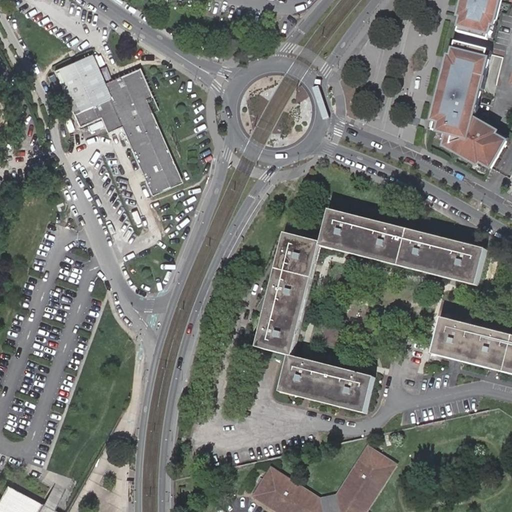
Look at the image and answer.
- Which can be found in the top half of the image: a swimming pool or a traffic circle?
traffic circle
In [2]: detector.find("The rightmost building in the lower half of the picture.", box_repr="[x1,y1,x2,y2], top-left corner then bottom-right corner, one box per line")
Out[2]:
[430,316,512,374]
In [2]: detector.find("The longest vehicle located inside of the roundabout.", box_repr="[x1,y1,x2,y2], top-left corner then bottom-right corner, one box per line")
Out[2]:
[313,82,330,118]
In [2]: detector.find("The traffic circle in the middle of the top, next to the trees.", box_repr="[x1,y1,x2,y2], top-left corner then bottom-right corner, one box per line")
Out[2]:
[223,58,332,166]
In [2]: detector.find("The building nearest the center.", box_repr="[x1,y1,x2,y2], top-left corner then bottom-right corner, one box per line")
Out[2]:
[254,232,322,356]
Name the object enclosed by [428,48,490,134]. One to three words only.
building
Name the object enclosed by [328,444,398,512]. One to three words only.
house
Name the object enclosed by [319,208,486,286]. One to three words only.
building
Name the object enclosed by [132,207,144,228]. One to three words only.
vehicle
